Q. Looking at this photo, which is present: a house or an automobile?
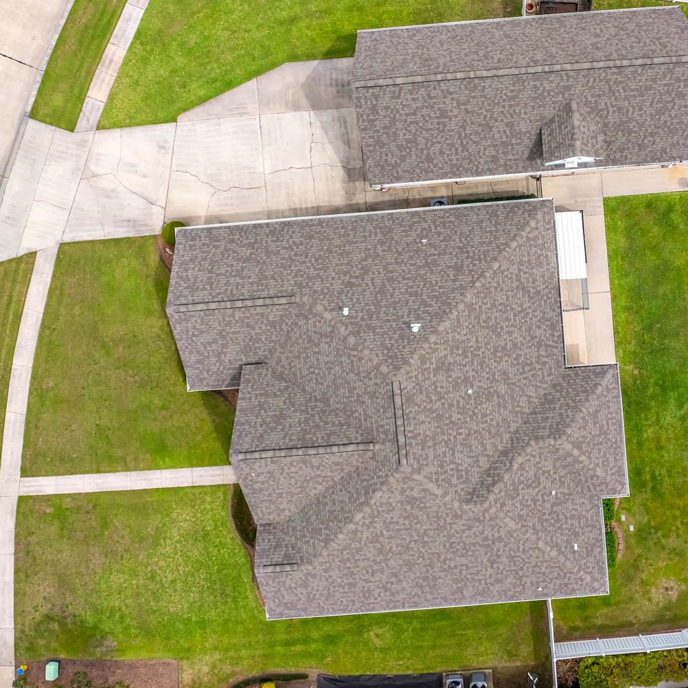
house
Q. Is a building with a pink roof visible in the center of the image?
No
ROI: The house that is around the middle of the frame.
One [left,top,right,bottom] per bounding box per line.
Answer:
[165,195,632,623]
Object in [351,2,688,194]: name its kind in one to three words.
building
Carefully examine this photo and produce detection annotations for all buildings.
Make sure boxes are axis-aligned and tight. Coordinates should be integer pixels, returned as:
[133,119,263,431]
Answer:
[165,195,632,623]
[351,2,688,194]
